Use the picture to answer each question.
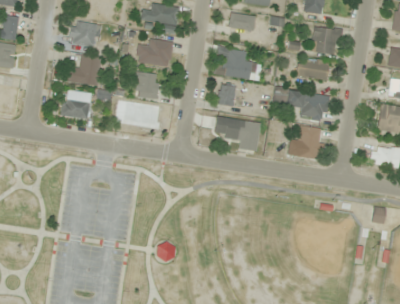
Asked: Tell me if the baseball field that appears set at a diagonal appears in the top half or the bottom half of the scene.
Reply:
bottom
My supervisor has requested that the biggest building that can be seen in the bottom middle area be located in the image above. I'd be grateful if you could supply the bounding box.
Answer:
[154,240,176,263]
